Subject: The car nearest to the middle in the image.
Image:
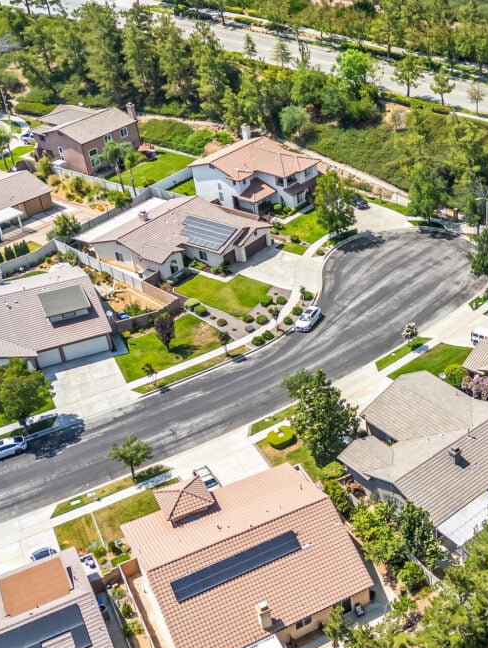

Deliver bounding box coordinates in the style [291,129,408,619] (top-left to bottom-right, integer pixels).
[293,300,325,331]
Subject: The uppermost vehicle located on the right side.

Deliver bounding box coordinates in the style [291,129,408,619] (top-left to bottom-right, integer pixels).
[345,186,374,209]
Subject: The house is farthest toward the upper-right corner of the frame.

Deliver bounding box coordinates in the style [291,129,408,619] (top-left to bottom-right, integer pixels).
[184,123,329,221]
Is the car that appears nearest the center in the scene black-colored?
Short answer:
No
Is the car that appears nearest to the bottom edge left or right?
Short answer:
left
